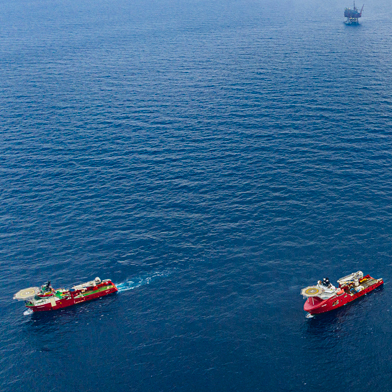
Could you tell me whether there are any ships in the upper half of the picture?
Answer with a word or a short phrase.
No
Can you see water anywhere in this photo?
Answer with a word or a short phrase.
Yes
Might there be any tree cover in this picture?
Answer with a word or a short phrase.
No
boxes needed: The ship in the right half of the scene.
[302,271,382,314]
